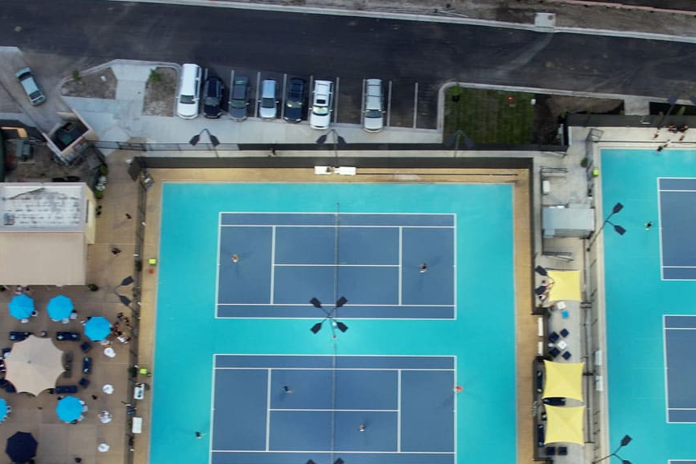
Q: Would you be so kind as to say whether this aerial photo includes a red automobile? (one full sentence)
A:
No, there's no red automobile here.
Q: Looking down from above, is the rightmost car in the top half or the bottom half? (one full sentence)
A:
You can find the rightmost car in the top half.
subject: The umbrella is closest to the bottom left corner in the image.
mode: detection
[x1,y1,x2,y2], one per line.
[7,431,40,462]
